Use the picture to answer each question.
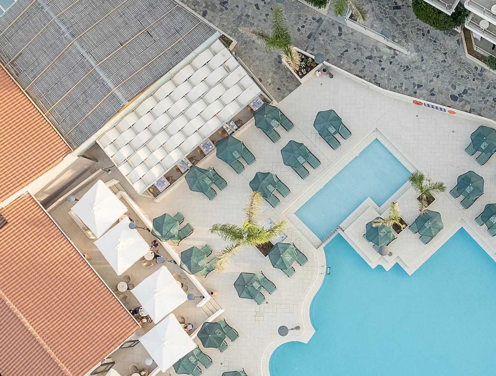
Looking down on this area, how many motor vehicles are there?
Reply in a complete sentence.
The count of motor vehicles is 0.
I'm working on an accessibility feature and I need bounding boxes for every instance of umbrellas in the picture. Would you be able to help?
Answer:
[223,369,246,376]
[251,172,282,202]
[415,210,445,240]
[314,108,343,137]
[185,163,215,192]
[482,202,496,231]
[71,180,128,237]
[282,143,312,173]
[467,125,496,156]
[218,138,248,167]
[267,241,297,270]
[233,274,263,303]
[454,169,483,198]
[154,214,184,244]
[179,247,210,276]
[130,266,188,323]
[175,353,202,376]
[199,319,228,347]
[94,217,149,275]
[365,216,393,244]
[139,314,197,372]
[253,103,283,132]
